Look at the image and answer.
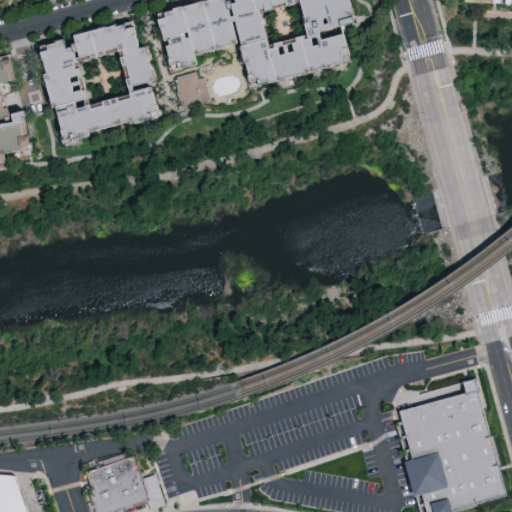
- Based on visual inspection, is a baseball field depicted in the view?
No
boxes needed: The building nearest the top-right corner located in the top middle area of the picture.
[231,0,354,86]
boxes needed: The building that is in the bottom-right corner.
[384,377,506,512]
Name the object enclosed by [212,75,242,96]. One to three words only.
swimming pool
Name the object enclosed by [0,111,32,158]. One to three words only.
house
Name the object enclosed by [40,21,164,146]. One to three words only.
building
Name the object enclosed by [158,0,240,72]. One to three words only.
building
